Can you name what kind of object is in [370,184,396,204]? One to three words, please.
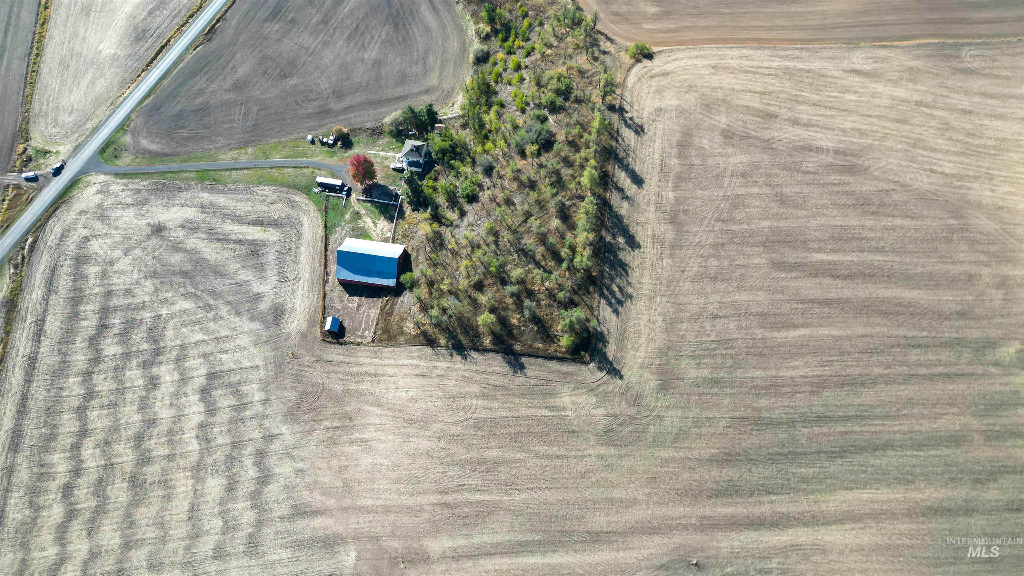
building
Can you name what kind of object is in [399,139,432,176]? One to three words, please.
house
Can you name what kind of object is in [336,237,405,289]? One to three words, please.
barn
